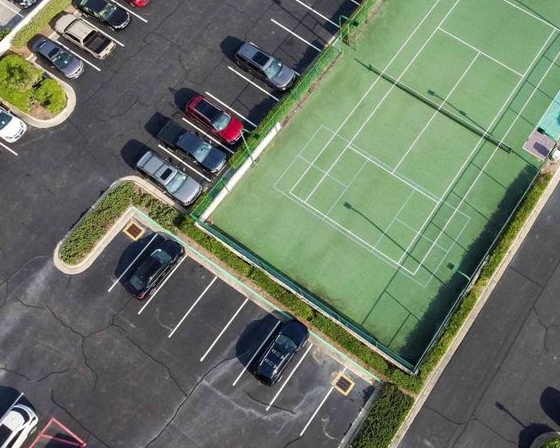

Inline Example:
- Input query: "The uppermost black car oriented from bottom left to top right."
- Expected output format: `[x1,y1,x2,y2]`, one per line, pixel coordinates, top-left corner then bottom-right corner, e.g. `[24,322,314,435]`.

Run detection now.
[126,237,186,300]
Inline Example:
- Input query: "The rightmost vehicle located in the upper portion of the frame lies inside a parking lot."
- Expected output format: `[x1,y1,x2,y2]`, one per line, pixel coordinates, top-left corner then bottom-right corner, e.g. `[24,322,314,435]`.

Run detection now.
[235,42,295,91]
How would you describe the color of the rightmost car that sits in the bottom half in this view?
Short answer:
black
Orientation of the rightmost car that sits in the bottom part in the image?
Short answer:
diagonally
